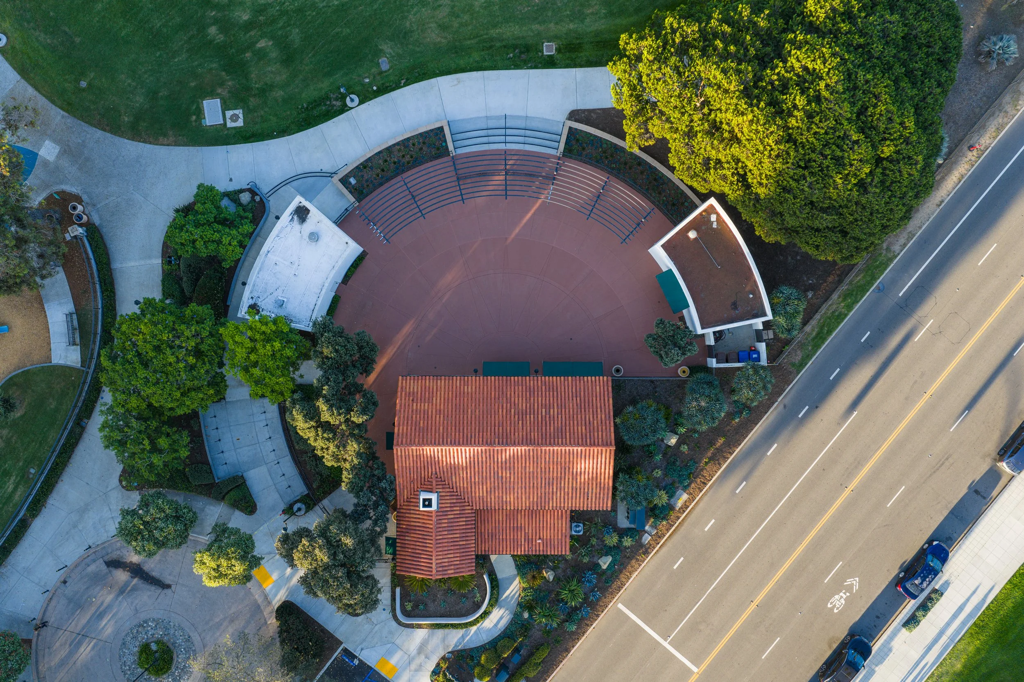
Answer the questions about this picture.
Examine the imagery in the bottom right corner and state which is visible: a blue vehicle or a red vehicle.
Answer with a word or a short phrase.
blue vehicle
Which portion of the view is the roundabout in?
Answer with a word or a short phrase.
bottom left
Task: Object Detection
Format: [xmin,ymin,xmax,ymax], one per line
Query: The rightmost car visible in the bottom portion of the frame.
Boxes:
[1002,432,1024,477]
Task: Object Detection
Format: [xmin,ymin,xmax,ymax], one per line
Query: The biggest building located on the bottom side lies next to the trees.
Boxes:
[385,361,617,582]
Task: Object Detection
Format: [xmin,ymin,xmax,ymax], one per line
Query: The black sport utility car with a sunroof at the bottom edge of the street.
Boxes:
[821,639,876,682]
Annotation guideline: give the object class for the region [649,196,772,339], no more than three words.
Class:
building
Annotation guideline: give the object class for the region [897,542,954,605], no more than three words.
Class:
car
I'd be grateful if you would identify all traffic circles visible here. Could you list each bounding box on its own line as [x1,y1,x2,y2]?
[40,542,273,682]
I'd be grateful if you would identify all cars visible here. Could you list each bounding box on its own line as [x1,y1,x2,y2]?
[1002,432,1024,477]
[821,639,876,682]
[897,542,954,605]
